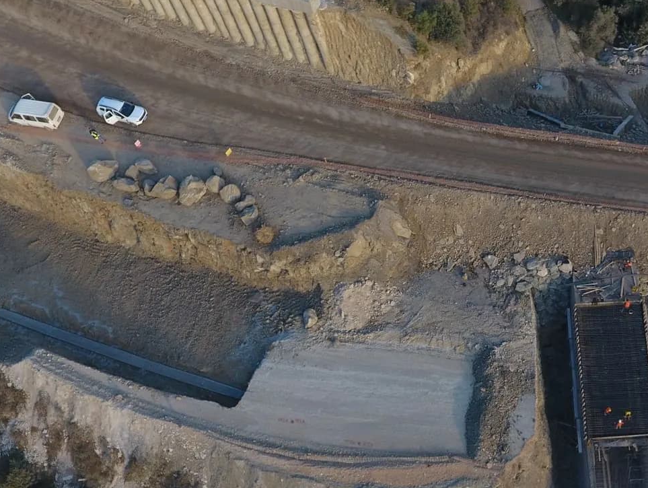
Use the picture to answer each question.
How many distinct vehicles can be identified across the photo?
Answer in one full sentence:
My tally gives 2 vehicles in this view.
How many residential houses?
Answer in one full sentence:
No residential houses are visible.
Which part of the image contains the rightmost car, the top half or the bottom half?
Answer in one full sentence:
Seen from above, the rightmost car lies in the top half of the view.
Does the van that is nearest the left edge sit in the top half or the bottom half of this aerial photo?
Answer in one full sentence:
The van that is nearest the left edge sits in the top half of the picture.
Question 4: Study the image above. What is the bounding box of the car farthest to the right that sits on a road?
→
[97,97,147,126]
